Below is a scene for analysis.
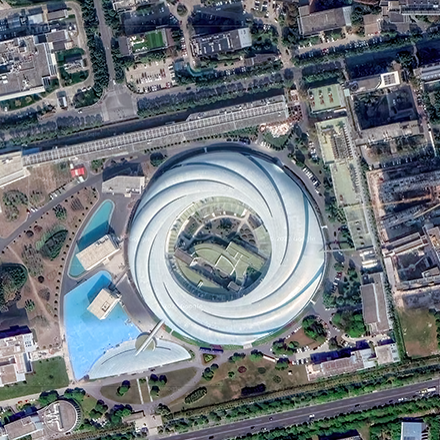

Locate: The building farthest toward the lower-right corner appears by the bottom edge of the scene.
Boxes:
[401,422,422,440]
